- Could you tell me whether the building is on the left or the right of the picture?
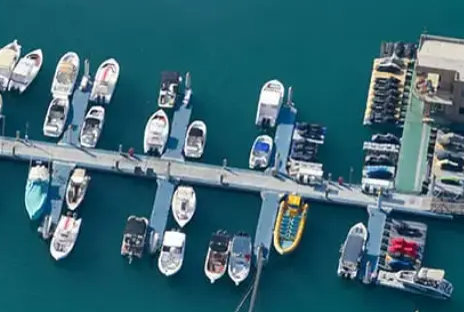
right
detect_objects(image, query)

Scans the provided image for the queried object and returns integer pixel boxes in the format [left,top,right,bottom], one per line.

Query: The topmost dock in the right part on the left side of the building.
[266,102,298,173]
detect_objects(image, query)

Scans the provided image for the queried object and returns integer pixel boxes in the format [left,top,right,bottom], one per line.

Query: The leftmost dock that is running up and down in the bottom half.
[41,164,73,237]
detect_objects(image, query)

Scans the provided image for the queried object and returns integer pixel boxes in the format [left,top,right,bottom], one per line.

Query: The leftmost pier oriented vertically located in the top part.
[55,80,91,146]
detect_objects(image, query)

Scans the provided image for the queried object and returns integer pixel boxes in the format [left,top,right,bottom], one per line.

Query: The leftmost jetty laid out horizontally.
[0,137,434,214]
